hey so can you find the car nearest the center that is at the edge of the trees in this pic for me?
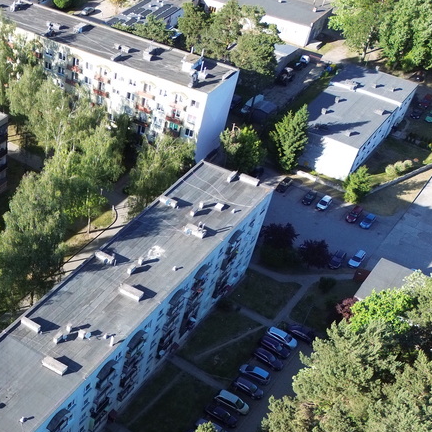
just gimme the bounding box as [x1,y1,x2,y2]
[274,175,294,194]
